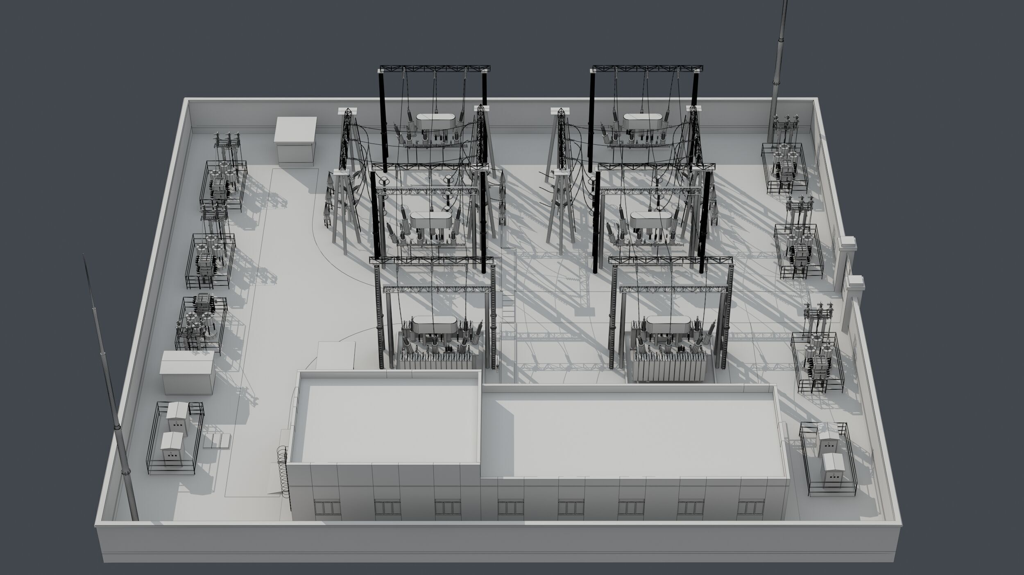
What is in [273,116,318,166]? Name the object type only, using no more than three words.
shed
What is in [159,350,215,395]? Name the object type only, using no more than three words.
shed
